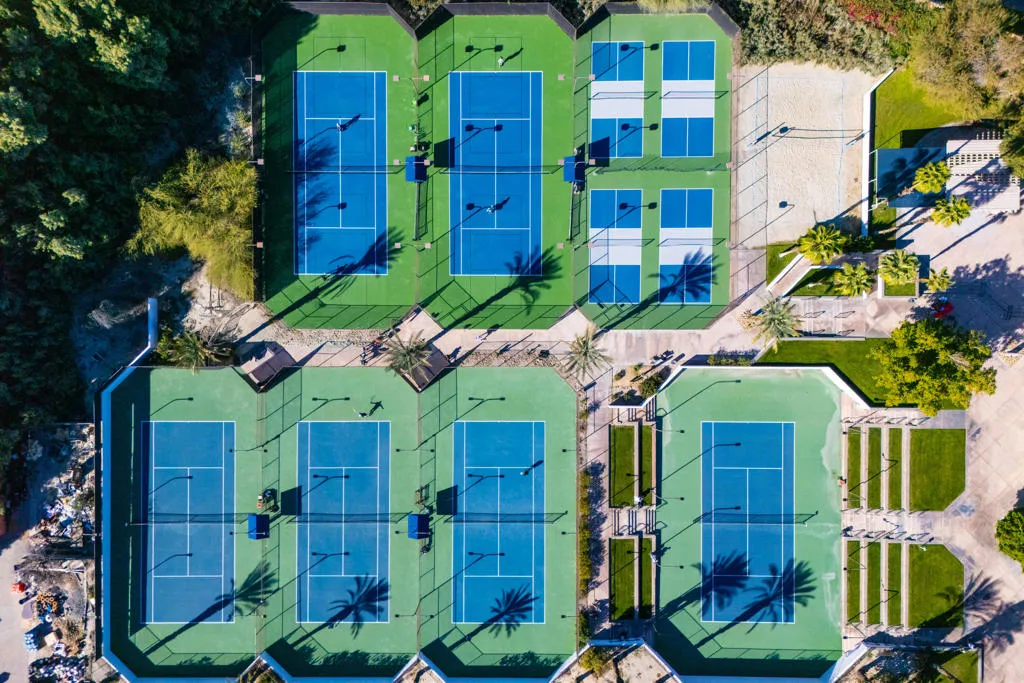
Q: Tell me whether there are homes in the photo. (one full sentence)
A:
No, the photo shows no home.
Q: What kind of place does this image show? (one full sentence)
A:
This image shows a sports ground.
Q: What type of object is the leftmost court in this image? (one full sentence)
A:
Looking closely, the leftmost court is a tennis court.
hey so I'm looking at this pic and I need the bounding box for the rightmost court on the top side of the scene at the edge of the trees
[740,57,892,249]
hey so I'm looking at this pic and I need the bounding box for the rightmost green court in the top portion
[417,15,575,328]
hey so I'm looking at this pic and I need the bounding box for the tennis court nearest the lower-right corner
[657,368,842,677]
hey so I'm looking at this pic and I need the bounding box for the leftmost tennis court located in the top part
[264,15,418,328]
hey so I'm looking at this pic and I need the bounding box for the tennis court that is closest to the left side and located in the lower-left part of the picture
[110,367,266,677]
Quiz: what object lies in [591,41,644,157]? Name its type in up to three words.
sports court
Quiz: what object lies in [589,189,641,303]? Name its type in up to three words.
sports court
